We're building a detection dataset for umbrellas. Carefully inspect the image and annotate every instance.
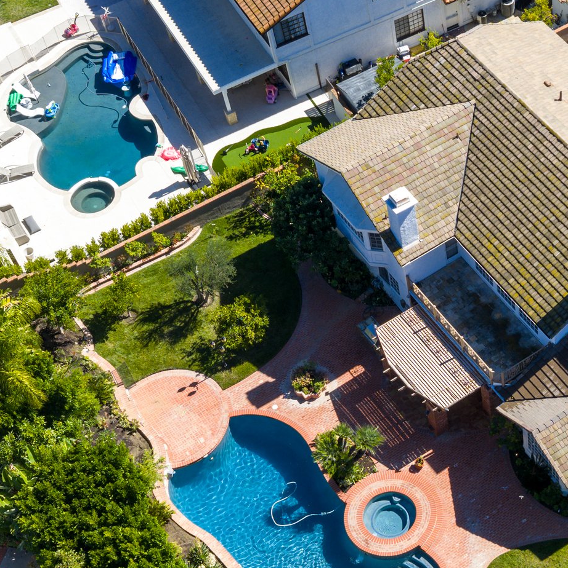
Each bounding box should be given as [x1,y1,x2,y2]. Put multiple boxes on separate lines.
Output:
[24,74,39,102]
[181,145,200,186]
